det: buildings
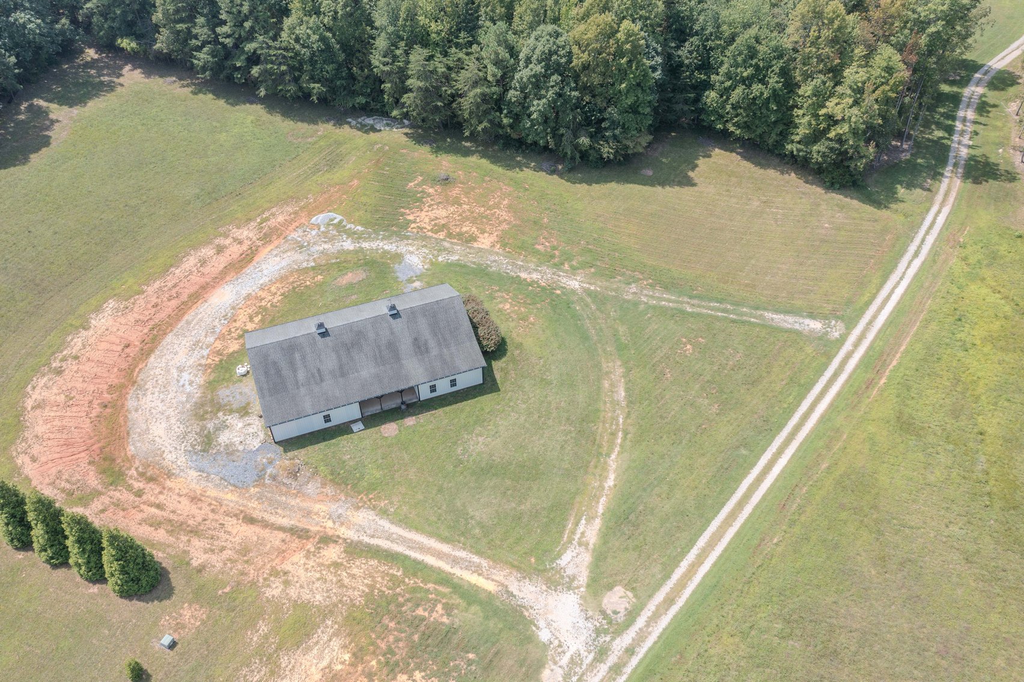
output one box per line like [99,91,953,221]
[246,284,487,443]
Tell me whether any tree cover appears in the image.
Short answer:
Yes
